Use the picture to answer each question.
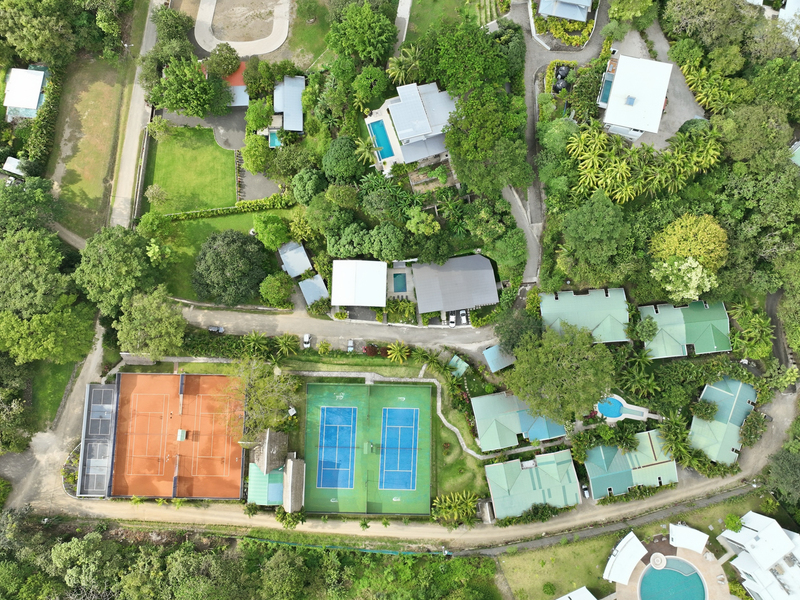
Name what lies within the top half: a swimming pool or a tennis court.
swimming pool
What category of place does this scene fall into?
residential area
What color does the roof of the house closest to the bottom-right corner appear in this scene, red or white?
white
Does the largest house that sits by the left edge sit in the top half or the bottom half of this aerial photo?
top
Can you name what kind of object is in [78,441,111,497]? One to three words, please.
sports court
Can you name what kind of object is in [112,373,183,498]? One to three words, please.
tennis court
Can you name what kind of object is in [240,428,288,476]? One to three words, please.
building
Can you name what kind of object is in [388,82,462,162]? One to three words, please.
house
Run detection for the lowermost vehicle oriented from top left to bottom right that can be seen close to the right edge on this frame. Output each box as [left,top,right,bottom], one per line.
[760,411,777,426]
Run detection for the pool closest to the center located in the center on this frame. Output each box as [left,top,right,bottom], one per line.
[388,266,416,301]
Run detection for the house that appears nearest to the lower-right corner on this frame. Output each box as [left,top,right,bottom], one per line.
[716,507,800,600]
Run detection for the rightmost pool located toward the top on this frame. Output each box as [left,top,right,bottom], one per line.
[598,76,613,112]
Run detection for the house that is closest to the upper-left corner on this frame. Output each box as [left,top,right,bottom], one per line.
[3,65,54,123]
